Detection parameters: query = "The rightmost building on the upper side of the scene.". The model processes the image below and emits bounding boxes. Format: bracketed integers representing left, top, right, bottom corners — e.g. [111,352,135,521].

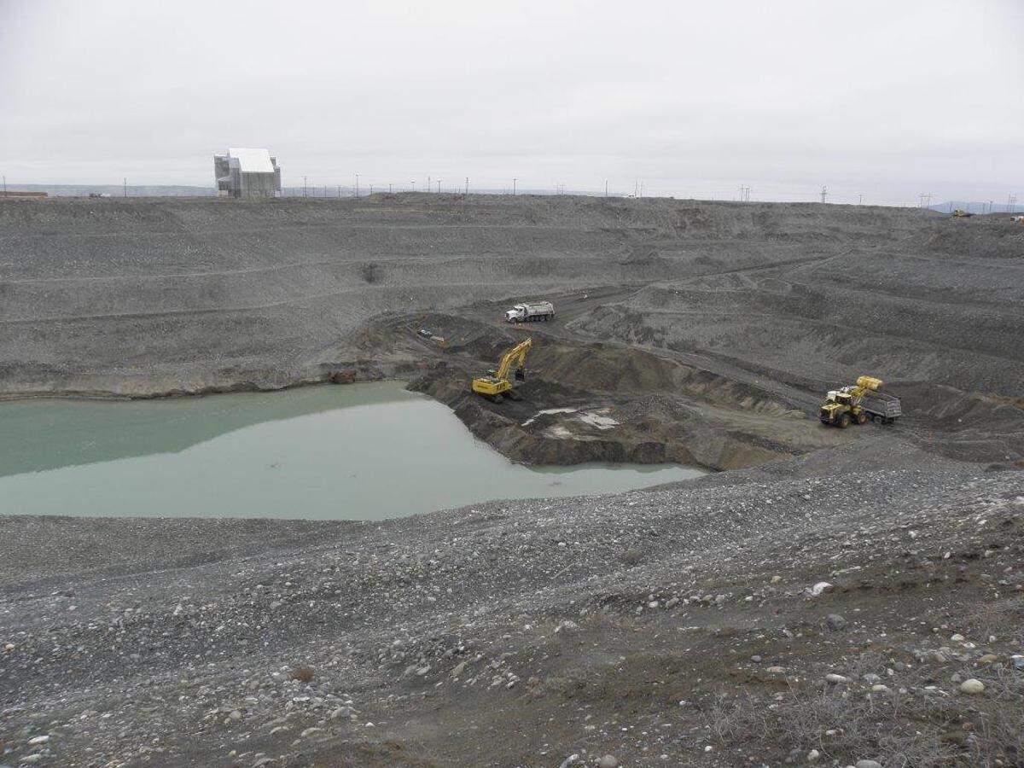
[213,149,282,198]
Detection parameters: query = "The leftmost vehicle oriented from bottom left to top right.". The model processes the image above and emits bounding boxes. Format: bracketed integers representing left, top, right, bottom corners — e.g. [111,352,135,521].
[472,336,531,401]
